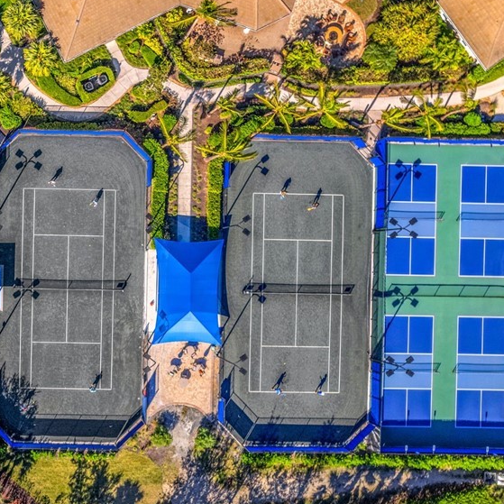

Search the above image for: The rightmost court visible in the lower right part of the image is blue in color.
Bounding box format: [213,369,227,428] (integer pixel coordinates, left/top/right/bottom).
[445,298,504,448]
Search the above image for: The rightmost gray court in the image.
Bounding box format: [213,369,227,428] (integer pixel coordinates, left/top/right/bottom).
[221,140,374,446]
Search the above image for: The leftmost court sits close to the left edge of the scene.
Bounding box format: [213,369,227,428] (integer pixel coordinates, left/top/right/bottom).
[0,135,146,444]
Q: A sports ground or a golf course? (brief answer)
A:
sports ground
